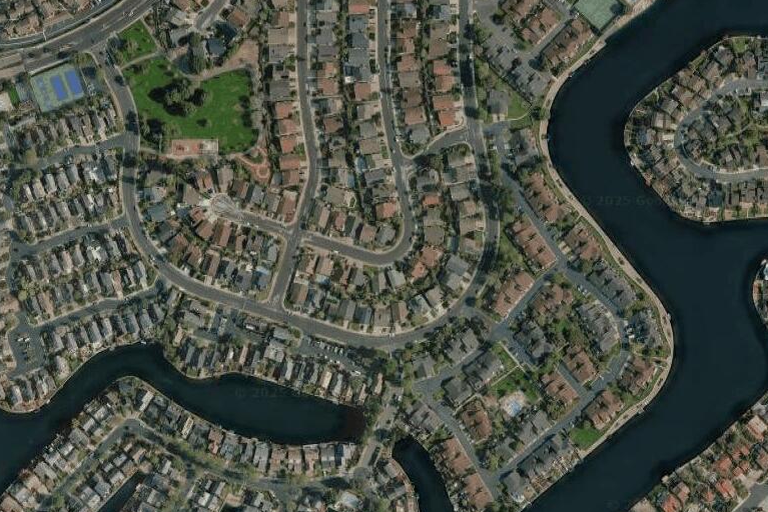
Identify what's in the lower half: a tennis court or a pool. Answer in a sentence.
You can see a pool in the lower half.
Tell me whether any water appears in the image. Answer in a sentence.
Yes, water can be seen from above here.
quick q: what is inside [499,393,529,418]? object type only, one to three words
swimming pool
